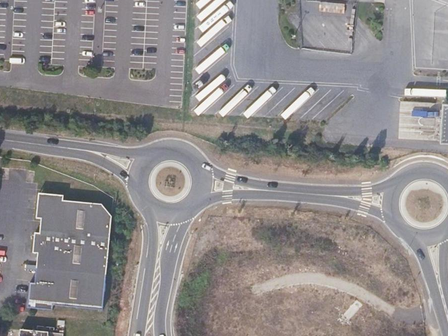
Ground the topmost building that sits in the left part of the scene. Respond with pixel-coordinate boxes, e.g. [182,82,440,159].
[24,194,112,310]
